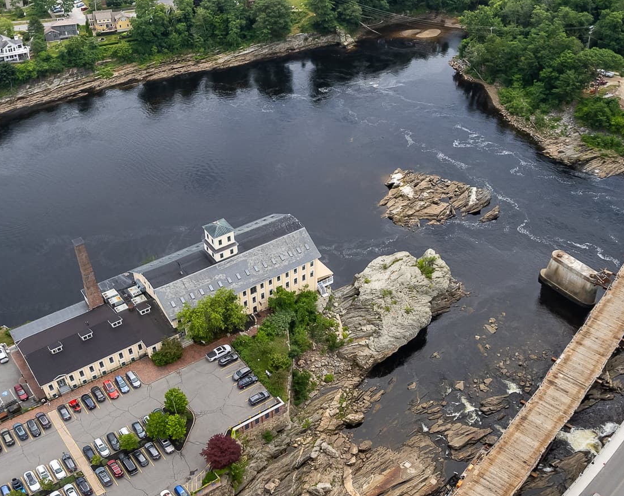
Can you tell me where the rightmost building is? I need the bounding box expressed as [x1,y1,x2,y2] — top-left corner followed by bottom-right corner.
[129,214,340,353]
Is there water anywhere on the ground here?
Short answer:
Yes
